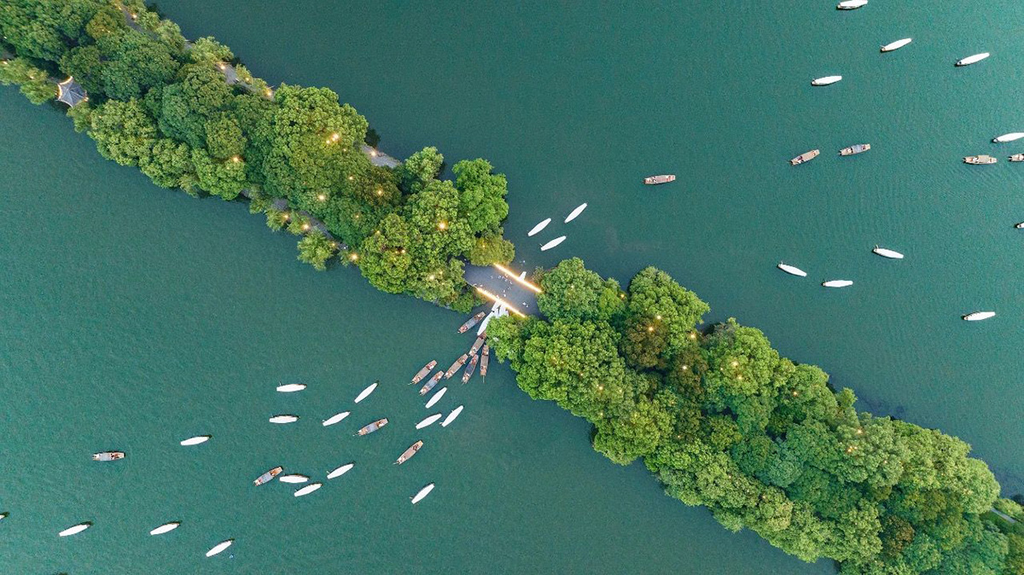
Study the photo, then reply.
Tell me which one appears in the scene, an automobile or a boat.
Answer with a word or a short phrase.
boat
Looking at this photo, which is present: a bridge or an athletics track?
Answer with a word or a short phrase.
bridge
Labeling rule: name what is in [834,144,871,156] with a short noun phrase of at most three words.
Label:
boat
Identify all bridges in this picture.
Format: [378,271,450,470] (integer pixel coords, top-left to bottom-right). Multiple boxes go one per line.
[464,258,548,322]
